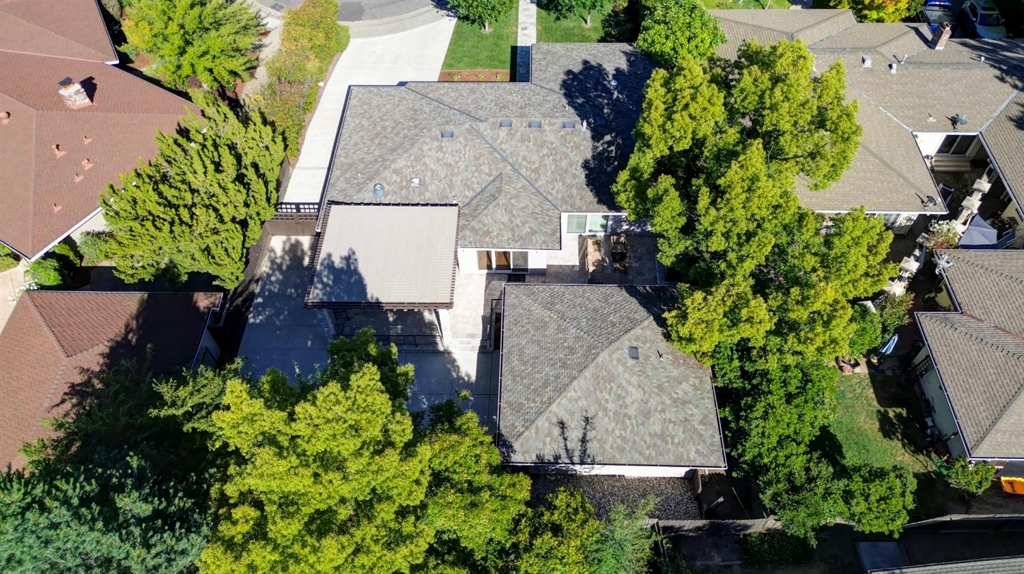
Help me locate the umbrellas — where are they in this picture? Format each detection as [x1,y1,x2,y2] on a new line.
[869,331,901,366]
[955,214,1004,248]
